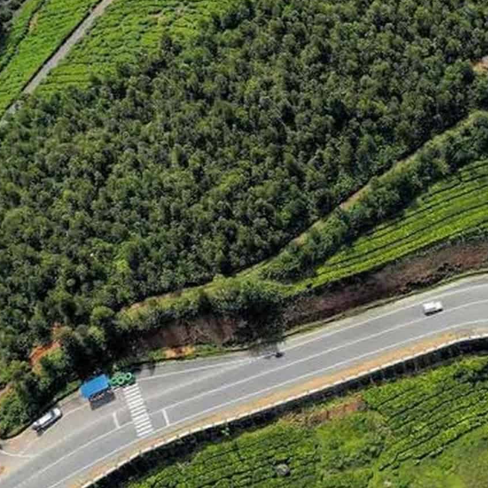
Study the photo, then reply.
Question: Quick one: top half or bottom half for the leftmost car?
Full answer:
The leftmost car sits in the bottom half of the picture.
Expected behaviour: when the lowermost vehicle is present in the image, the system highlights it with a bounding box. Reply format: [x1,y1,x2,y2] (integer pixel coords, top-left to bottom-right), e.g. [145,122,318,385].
[33,410,63,432]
